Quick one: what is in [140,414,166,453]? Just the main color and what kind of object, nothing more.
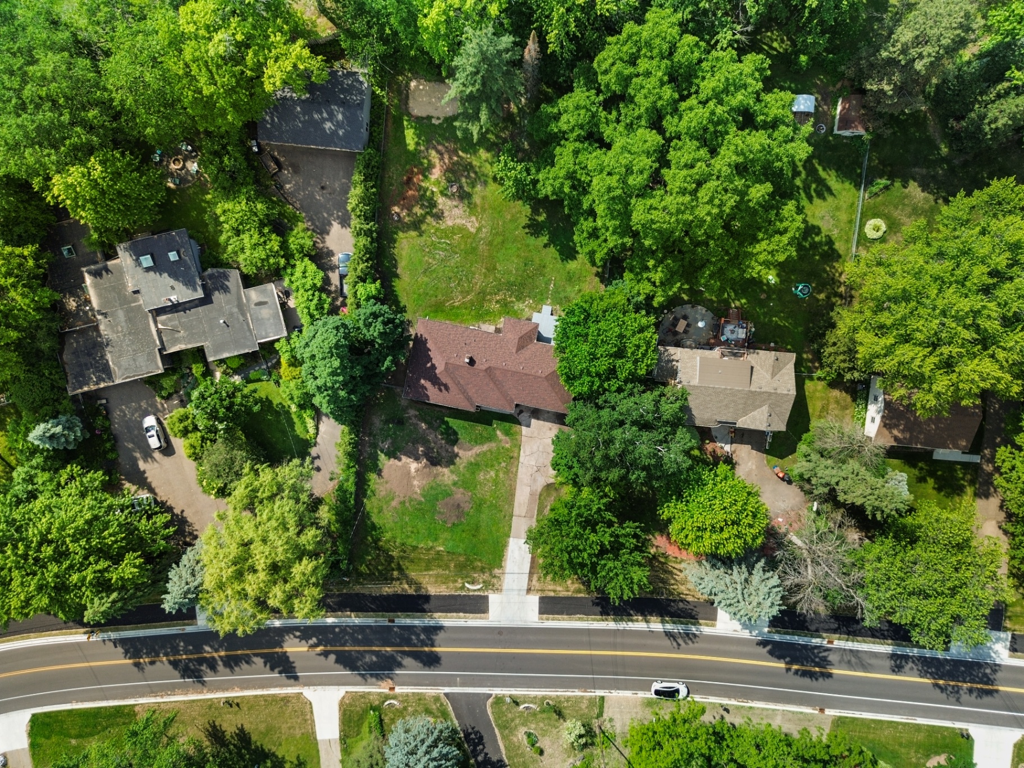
white car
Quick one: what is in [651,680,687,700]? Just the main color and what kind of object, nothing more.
white car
